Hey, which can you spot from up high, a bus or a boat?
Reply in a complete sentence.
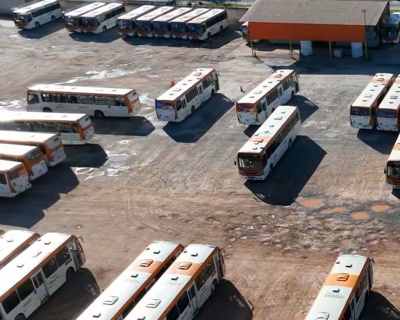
Looking from above, you can make out a bus.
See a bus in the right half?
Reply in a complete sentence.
Yes, the scene does show a bus in the right half.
